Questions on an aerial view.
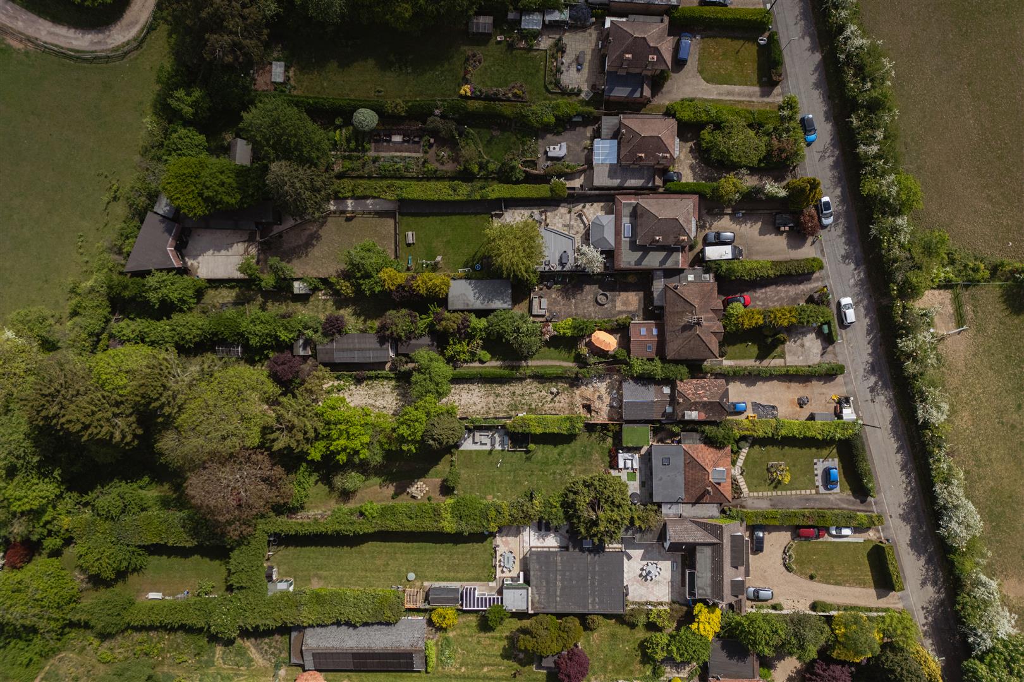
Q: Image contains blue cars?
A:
Yes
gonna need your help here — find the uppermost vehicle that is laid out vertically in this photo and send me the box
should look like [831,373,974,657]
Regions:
[675,33,692,66]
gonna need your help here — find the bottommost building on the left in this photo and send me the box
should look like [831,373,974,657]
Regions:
[290,611,426,670]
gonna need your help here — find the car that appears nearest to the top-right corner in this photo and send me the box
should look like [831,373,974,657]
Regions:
[799,114,817,144]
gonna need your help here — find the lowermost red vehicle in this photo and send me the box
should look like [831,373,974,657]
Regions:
[794,526,827,542]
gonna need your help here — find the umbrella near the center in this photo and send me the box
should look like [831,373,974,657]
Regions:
[591,332,617,352]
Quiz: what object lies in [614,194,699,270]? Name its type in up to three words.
house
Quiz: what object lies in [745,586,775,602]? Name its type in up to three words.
car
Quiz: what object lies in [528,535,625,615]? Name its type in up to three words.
building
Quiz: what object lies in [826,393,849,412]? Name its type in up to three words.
work vehicle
